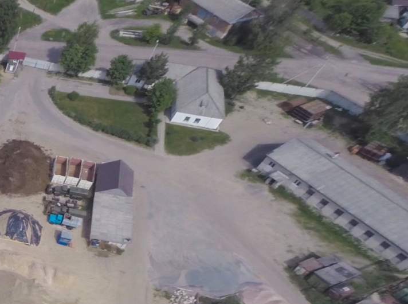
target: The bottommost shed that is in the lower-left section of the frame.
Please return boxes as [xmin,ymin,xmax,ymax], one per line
[86,195,134,257]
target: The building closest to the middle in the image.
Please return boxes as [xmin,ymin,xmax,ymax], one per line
[168,65,226,127]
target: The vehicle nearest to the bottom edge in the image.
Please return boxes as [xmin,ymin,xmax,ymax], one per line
[56,231,73,254]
